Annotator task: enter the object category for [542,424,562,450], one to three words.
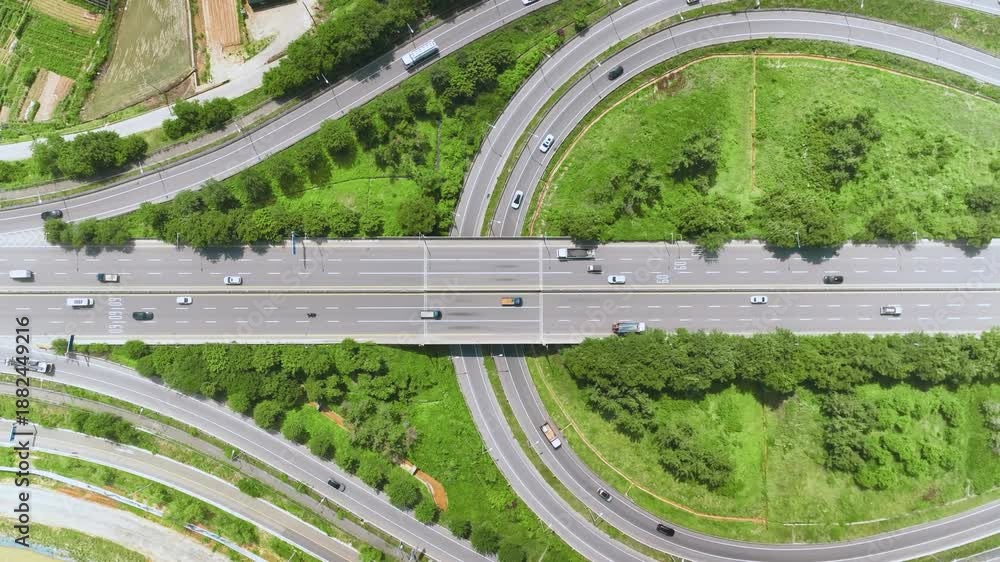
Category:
vehicle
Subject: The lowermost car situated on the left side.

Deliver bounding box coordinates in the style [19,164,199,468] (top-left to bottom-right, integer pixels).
[327,479,344,492]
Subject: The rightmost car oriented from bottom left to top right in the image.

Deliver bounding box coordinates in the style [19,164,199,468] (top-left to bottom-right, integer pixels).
[607,65,624,79]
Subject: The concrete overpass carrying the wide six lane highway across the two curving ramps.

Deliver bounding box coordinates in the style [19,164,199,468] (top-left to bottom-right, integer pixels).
[424,238,543,344]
